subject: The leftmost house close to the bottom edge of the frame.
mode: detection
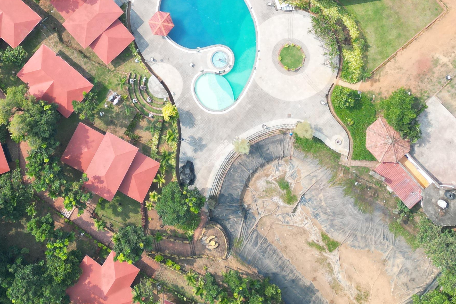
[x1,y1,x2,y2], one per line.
[66,252,143,304]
